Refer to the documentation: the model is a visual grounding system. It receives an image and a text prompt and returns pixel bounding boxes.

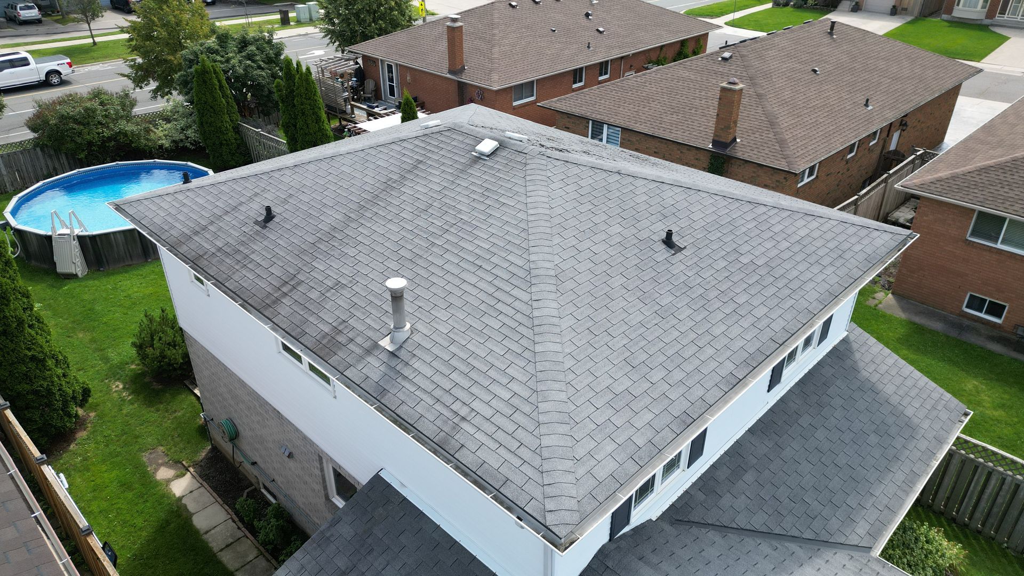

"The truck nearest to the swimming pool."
[0,52,77,88]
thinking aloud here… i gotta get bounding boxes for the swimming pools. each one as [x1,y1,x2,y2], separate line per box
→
[0,161,206,271]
